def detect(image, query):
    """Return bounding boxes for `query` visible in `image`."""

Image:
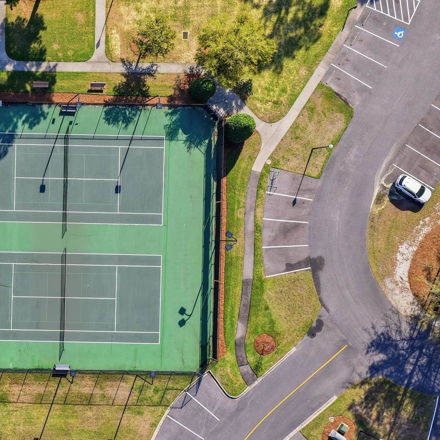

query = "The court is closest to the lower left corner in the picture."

[0,235,213,372]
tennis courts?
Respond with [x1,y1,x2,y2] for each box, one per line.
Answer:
[0,106,215,237]
[0,235,213,372]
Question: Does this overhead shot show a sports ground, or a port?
sports ground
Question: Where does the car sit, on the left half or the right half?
right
